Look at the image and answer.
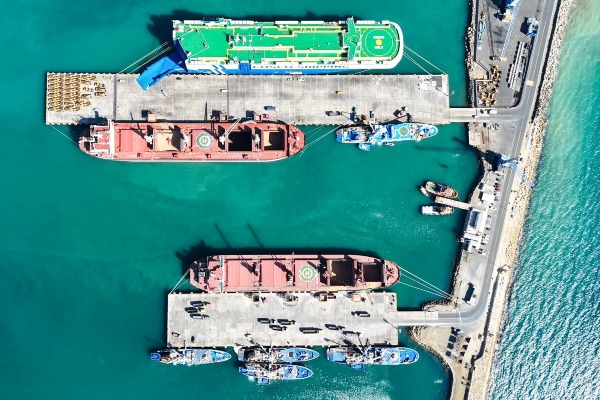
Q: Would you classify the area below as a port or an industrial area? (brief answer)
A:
port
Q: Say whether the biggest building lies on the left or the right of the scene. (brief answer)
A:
right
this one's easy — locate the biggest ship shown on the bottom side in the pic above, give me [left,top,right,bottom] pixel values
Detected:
[190,253,401,292]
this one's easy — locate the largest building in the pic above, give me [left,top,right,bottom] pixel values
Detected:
[460,207,488,237]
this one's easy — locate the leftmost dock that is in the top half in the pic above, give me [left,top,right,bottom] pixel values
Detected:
[46,72,449,125]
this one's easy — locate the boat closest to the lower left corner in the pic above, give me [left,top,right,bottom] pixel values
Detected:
[153,347,231,368]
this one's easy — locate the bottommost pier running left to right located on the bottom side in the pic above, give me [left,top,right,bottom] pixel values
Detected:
[168,292,397,348]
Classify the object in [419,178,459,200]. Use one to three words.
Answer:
boat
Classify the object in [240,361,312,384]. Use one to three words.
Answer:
boat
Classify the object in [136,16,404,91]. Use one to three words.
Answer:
ship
